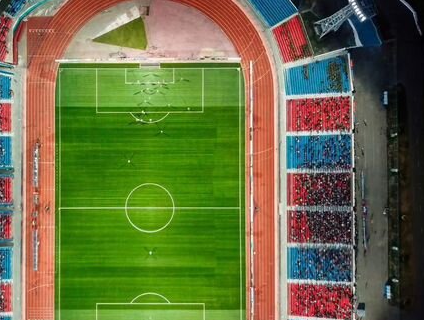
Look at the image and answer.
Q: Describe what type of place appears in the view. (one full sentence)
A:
This looks like a sports ground.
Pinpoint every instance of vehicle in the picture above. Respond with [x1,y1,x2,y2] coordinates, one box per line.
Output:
[382,283,390,298]
[380,90,388,106]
